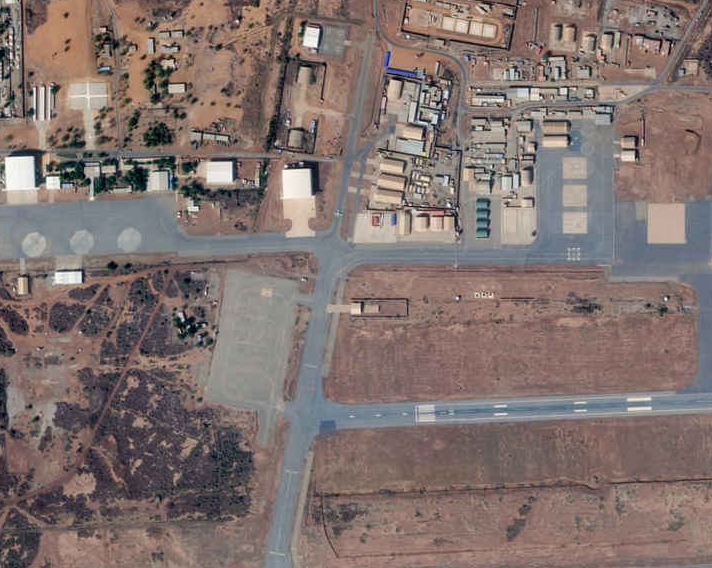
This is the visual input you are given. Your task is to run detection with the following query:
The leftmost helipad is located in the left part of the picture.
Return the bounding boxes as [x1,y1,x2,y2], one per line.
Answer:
[22,232,46,257]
